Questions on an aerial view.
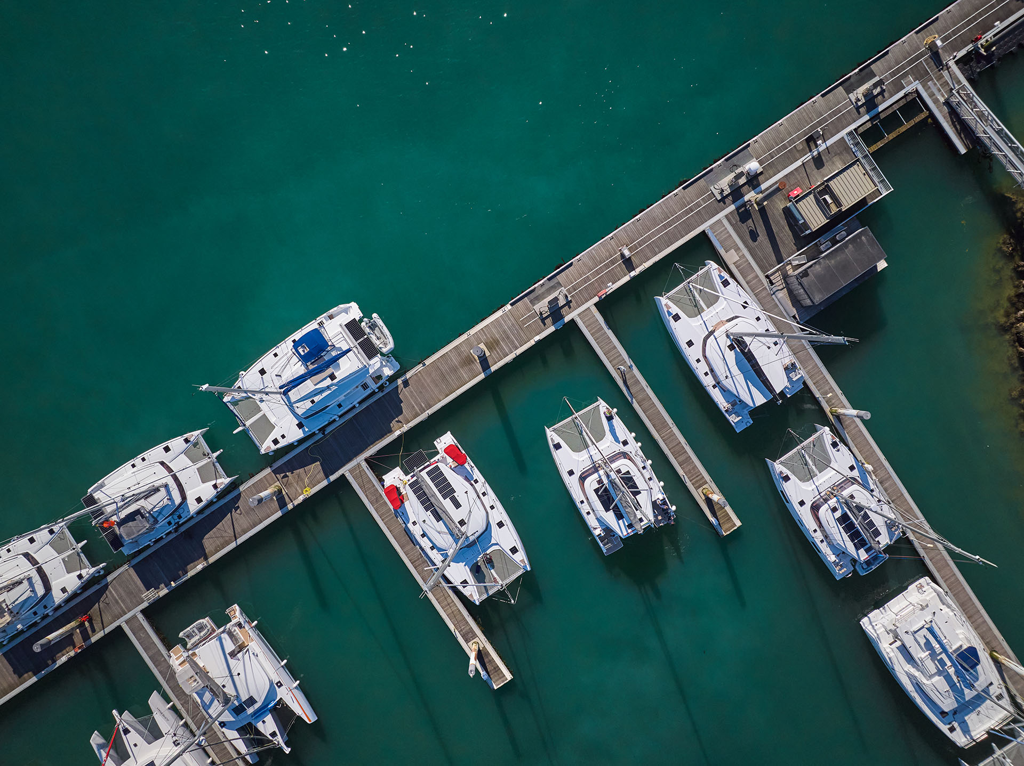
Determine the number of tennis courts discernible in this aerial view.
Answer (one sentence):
No tennis courts are visible.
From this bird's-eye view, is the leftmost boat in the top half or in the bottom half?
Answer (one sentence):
You can find the leftmost boat in the bottom half.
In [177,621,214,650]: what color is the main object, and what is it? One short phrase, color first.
gray boat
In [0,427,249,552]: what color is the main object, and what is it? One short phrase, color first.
white boat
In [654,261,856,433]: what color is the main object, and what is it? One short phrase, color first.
white boat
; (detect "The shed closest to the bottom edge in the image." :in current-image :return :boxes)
[764,218,887,324]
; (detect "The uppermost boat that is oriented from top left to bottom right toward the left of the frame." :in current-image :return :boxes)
[358,312,397,358]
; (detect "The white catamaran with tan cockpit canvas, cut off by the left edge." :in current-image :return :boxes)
[0,514,118,639]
